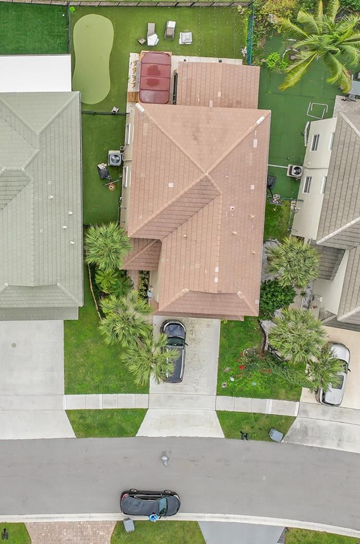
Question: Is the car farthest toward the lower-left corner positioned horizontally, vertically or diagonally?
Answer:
horizontally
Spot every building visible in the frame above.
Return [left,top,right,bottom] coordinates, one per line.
[0,54,85,321]
[118,62,272,321]
[291,112,360,331]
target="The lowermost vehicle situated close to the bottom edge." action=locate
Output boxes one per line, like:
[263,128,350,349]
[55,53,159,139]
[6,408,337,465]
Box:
[120,488,179,519]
